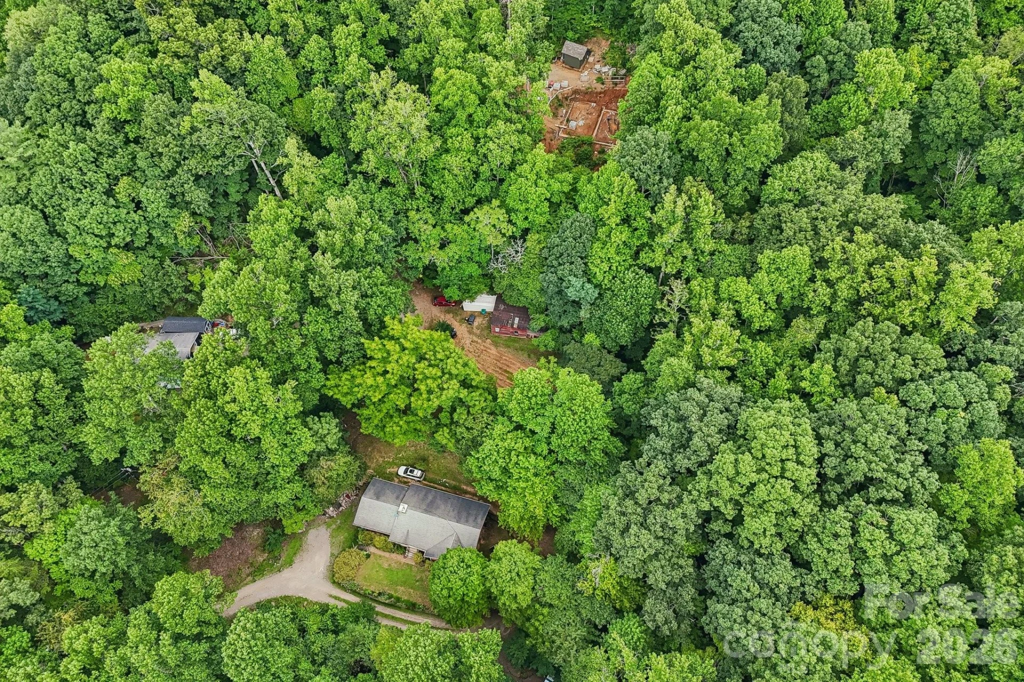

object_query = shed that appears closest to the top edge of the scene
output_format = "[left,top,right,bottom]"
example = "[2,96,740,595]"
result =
[562,46,589,71]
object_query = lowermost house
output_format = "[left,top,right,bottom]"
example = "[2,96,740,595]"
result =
[354,477,489,560]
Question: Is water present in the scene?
No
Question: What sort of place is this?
forest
